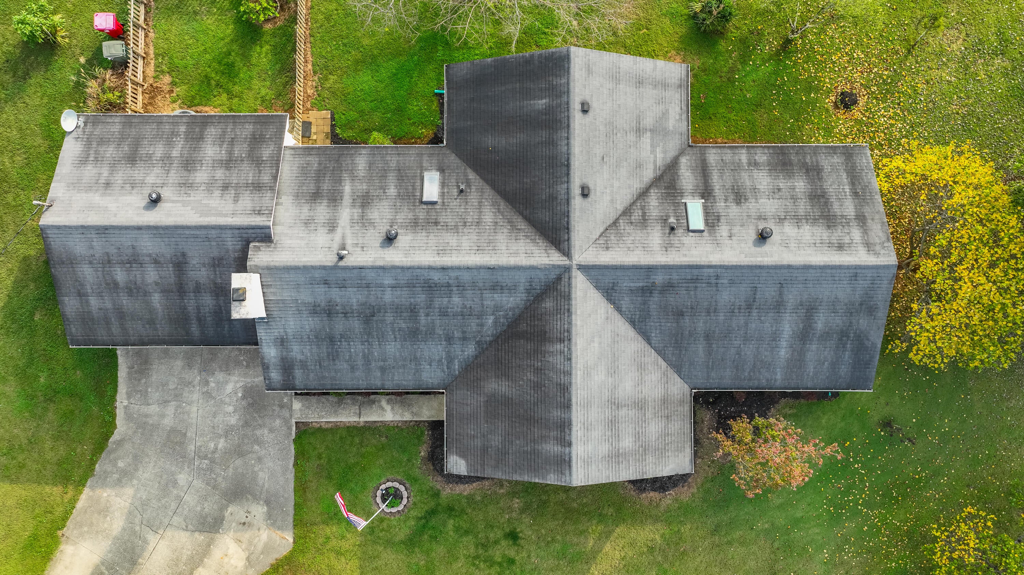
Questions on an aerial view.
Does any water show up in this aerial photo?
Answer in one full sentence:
No, there is no water in the image.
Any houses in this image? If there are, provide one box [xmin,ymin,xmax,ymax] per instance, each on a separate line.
[31,46,898,487]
